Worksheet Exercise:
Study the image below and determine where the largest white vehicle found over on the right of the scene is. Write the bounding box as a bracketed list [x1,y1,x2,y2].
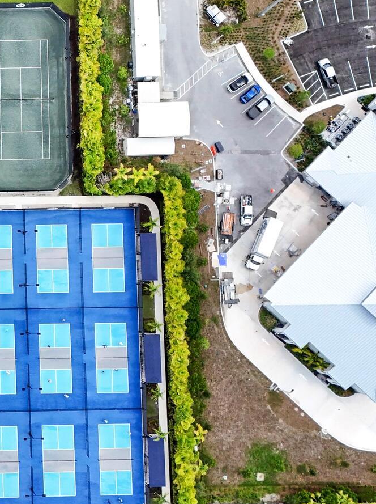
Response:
[245,210,283,272]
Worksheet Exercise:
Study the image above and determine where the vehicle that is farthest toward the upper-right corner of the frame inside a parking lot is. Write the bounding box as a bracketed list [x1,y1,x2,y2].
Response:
[317,59,337,90]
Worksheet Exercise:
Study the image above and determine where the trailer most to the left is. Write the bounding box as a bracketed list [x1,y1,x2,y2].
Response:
[129,0,172,82]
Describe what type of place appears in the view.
sports ground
